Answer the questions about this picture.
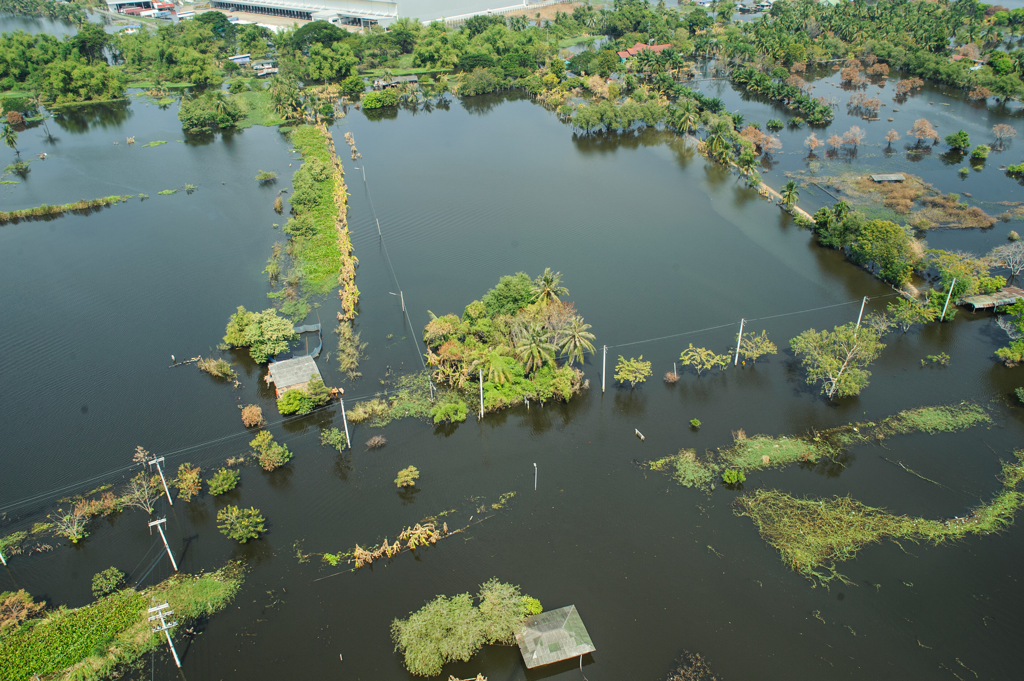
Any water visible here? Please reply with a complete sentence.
Yes, some water is visible.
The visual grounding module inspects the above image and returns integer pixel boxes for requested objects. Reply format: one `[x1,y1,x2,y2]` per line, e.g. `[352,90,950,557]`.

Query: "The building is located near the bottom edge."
[512,604,596,670]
